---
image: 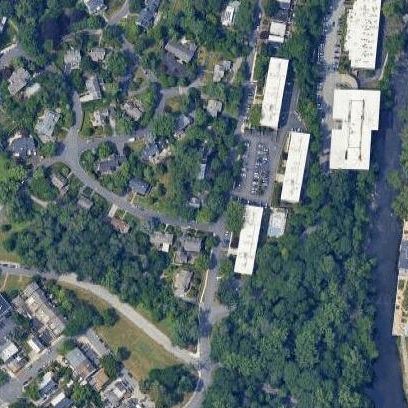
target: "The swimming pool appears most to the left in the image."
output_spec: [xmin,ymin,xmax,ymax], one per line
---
[267,208,287,237]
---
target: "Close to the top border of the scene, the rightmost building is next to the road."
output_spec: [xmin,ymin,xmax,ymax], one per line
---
[345,0,382,71]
